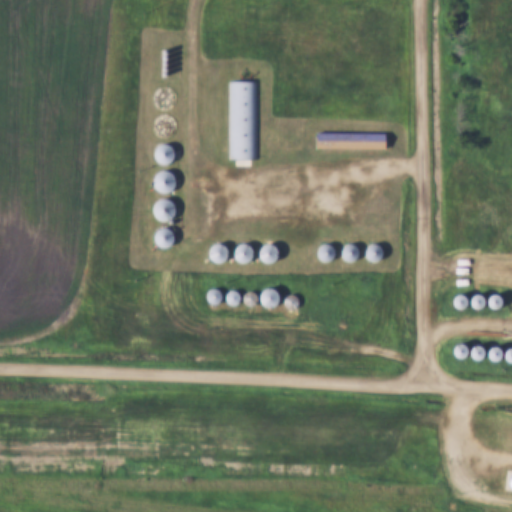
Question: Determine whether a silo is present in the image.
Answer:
Yes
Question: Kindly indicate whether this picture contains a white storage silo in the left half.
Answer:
Yes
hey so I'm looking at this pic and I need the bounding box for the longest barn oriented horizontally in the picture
[316,132,388,150]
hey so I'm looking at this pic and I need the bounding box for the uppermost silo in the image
[154,144,176,166]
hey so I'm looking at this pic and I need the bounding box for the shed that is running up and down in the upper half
[229,81,255,168]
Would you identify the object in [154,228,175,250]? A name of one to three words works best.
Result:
silo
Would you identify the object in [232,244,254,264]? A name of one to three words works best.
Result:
silo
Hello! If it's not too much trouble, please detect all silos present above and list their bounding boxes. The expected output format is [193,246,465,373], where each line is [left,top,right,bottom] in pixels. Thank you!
[341,244,360,263]
[365,244,384,263]
[152,170,176,194]
[226,290,242,306]
[453,344,470,360]
[206,289,223,306]
[232,244,254,264]
[154,228,175,250]
[152,199,176,223]
[206,244,229,264]
[154,144,176,166]
[259,240,280,265]
[470,294,487,311]
[284,294,300,310]
[470,346,487,362]
[453,294,470,311]
[260,288,280,309]
[488,294,504,311]
[317,244,336,263]
[488,347,504,363]
[243,292,258,308]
